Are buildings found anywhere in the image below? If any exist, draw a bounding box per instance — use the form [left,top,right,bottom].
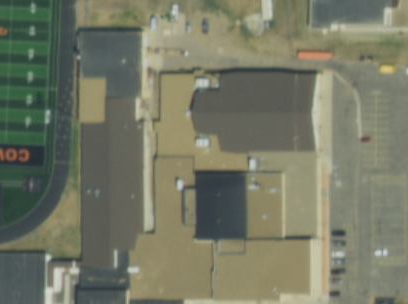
[310,0,395,28]
[128,72,324,304]
[0,252,52,304]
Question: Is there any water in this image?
No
